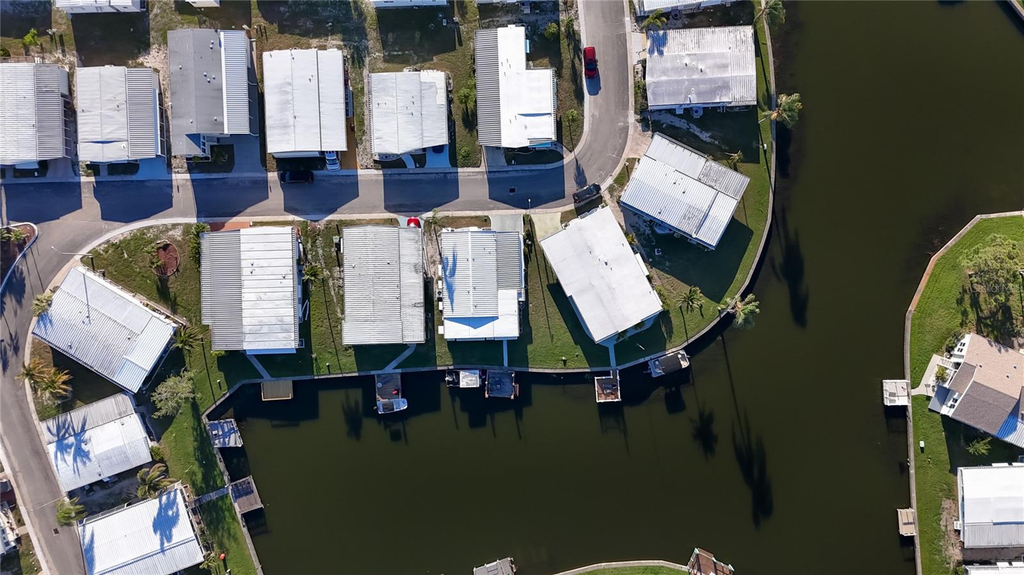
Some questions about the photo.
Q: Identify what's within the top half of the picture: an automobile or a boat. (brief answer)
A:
automobile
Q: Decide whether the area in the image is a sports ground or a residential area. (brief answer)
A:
residential area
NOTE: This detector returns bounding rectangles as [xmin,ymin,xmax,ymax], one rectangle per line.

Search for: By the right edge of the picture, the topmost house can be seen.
[927,333,1024,449]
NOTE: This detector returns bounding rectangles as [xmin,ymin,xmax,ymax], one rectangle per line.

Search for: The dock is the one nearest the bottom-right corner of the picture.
[896,509,919,537]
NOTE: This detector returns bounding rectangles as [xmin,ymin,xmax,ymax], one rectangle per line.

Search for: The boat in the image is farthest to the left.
[373,400,409,416]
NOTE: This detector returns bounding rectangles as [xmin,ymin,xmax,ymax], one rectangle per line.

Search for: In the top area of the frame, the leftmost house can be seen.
[0,63,77,168]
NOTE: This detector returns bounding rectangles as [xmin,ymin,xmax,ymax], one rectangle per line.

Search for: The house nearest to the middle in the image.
[438,226,524,341]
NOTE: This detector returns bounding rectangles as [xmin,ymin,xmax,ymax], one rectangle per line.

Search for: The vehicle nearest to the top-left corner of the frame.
[279,168,313,184]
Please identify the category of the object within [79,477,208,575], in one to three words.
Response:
house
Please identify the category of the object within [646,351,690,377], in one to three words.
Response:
boat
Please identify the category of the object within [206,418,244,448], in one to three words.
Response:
pier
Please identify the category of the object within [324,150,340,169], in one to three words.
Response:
car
